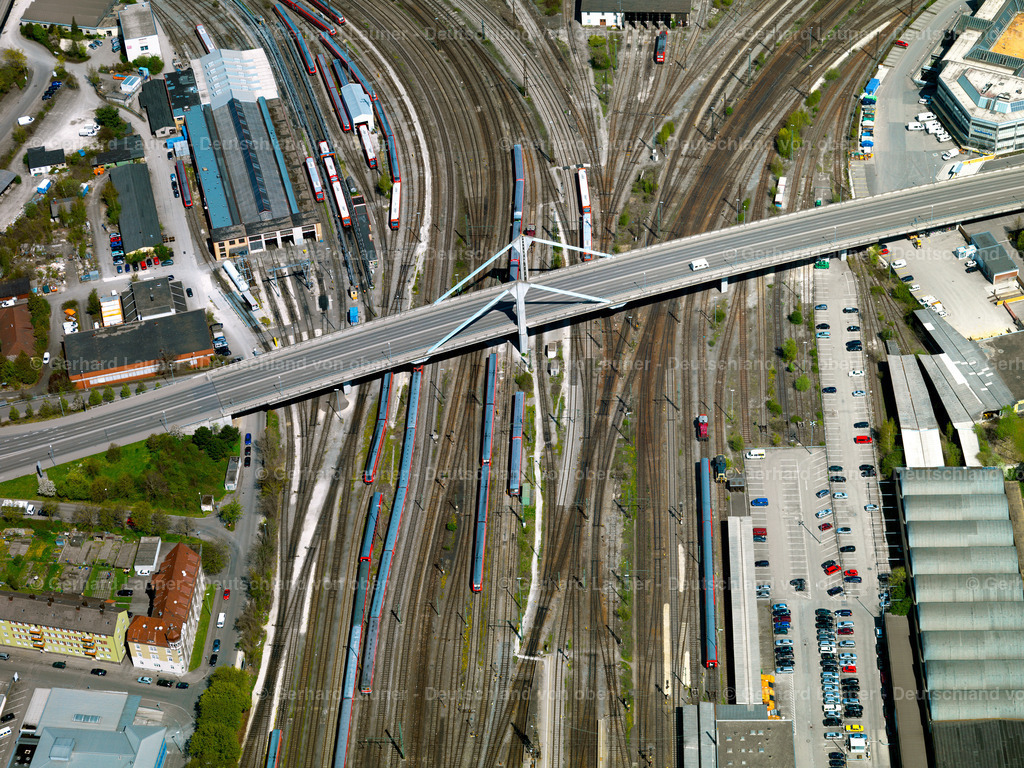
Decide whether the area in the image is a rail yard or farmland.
rail yard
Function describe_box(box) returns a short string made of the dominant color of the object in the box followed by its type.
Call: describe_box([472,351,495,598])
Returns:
blue train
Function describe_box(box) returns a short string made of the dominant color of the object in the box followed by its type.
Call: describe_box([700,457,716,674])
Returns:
blue train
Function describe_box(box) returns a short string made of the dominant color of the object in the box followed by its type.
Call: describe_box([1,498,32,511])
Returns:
white vehicle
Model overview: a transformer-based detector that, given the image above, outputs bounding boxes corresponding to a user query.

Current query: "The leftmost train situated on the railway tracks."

[195,25,215,58]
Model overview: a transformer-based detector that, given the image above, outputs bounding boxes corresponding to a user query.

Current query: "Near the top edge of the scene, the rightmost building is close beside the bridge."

[911,0,1024,165]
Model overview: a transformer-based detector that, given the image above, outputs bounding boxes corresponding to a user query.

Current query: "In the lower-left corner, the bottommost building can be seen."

[12,688,170,768]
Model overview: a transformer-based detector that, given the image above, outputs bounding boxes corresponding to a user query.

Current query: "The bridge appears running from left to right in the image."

[224,163,1024,412]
